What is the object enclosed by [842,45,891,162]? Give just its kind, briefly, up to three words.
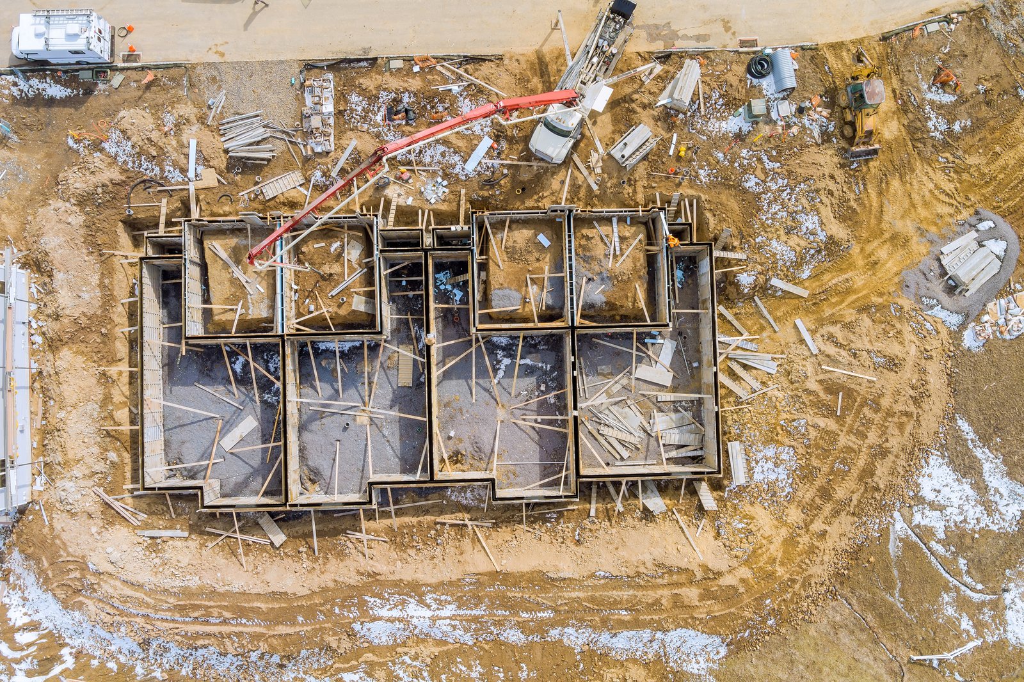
work vehicle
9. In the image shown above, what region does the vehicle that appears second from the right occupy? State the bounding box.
[247,0,656,280]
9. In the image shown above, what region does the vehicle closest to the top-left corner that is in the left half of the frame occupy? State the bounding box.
[9,12,117,65]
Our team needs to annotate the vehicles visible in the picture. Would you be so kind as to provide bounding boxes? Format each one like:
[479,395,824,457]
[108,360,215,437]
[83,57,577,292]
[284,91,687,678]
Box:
[9,12,117,65]
[247,0,656,280]
[842,45,891,162]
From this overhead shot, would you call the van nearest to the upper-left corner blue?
No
